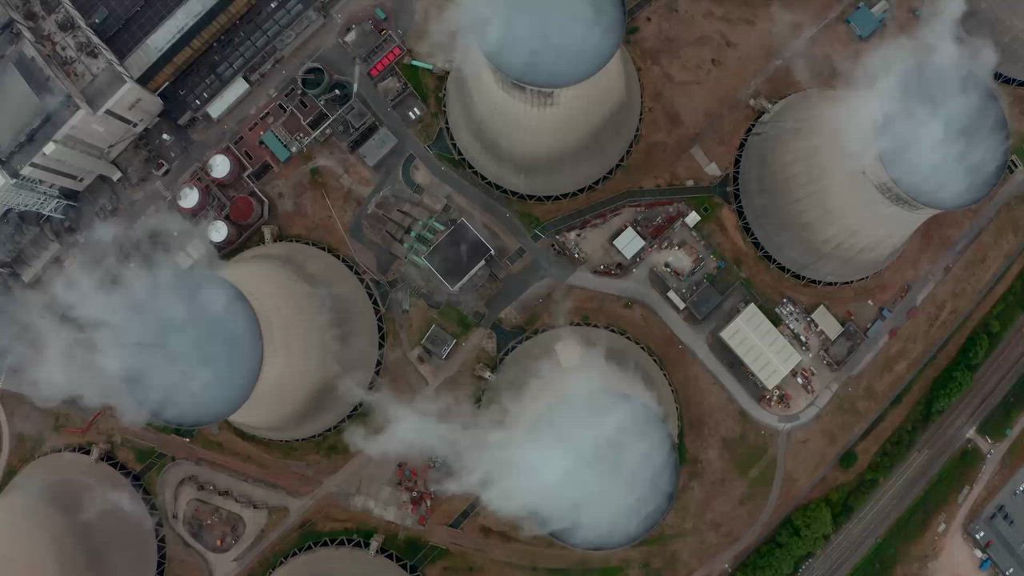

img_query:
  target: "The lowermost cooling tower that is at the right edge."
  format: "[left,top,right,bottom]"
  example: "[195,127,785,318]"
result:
[724,75,1011,294]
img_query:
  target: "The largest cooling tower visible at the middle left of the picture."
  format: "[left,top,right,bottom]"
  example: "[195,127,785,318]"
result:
[104,237,386,439]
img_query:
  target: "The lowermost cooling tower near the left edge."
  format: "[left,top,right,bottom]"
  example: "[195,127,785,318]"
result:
[0,444,170,576]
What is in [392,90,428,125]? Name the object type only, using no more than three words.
building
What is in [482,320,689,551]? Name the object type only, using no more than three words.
cooling tower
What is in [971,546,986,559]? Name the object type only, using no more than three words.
vehicle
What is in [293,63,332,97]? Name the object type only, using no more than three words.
storage tank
